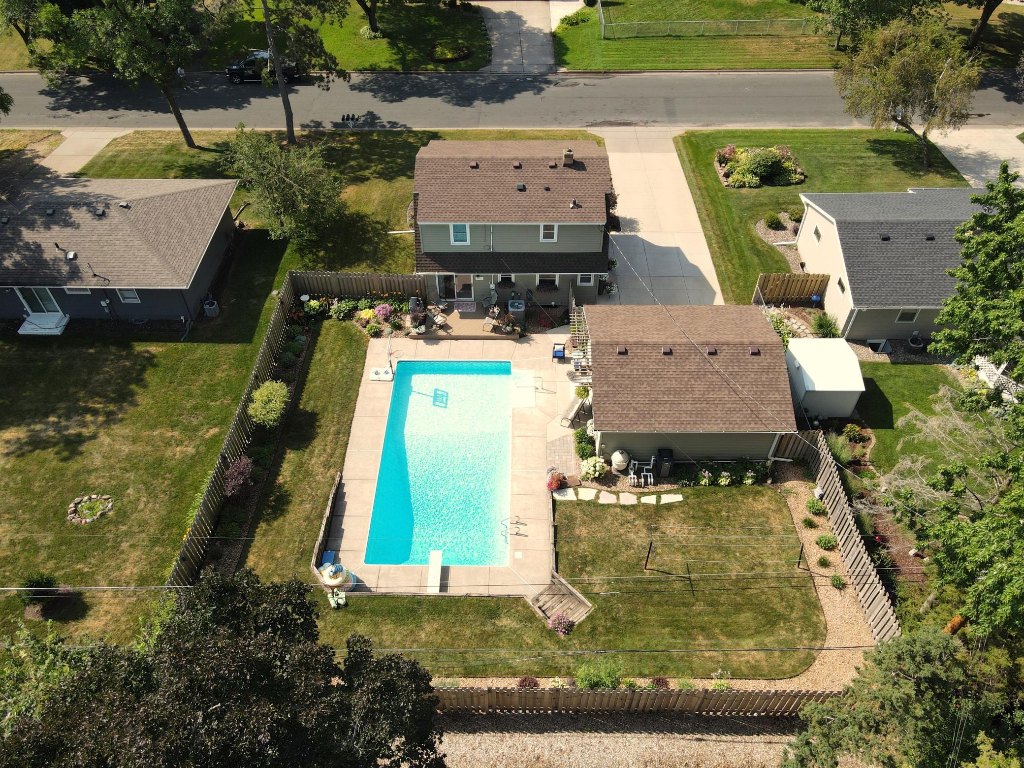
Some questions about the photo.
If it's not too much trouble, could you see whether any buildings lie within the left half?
Yes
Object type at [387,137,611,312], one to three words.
house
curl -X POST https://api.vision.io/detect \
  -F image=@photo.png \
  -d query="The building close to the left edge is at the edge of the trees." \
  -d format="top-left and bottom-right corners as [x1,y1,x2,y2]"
[0,178,244,340]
